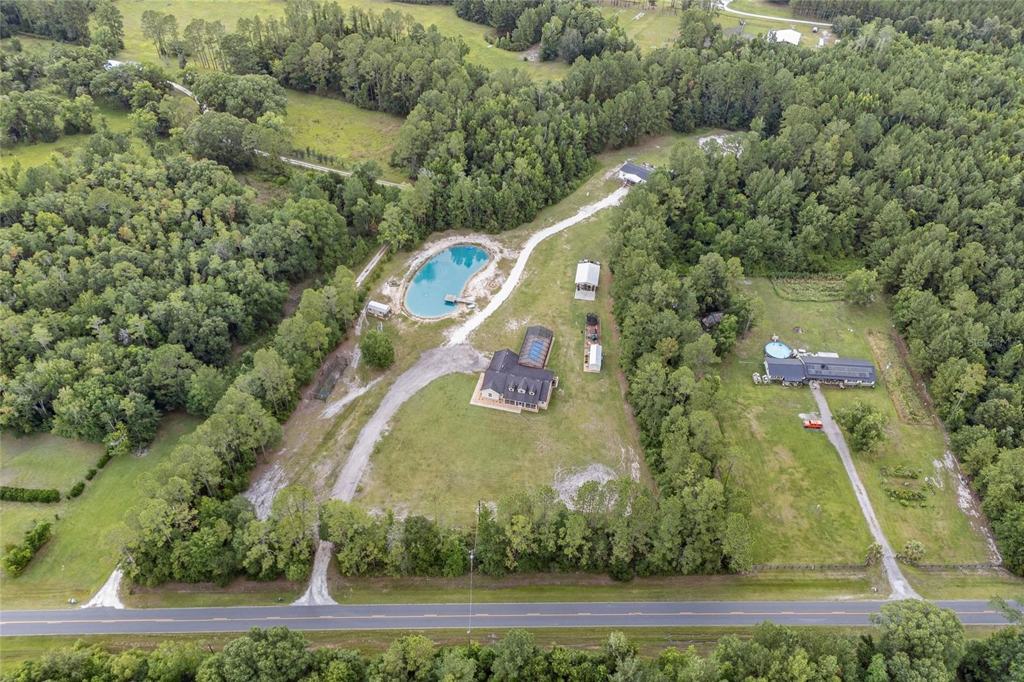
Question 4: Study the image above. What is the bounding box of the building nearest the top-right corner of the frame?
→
[763,28,801,46]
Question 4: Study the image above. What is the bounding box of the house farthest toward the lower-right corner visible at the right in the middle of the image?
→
[762,355,880,388]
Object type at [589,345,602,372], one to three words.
shed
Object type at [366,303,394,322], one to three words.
building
